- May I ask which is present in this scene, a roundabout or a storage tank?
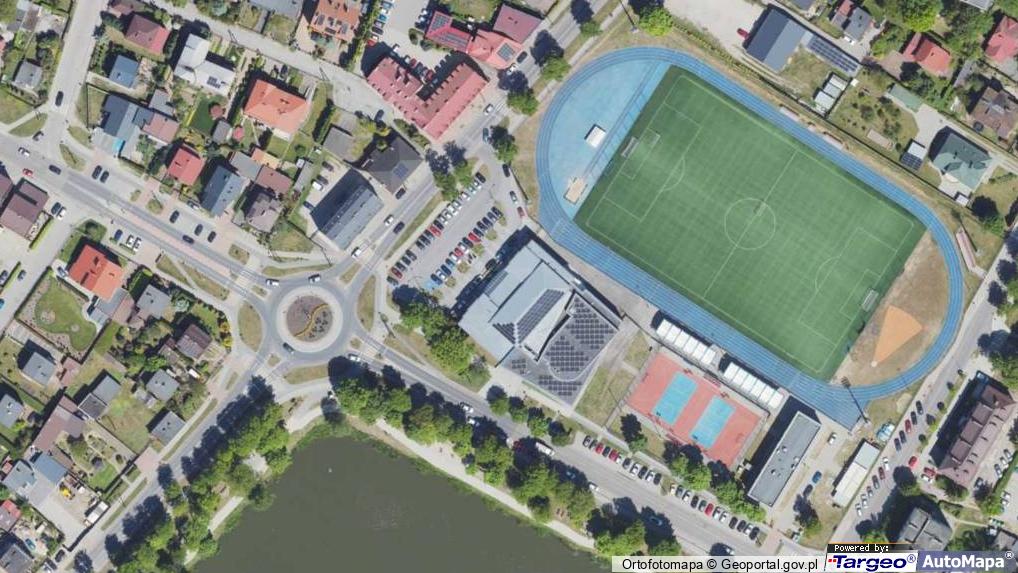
roundabout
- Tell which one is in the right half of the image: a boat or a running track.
running track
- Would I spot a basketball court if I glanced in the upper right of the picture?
No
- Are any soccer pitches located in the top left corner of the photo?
No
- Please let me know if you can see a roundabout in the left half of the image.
Yes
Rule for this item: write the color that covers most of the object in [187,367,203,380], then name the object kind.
white vehicle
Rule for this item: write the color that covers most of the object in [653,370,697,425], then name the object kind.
blue basketball court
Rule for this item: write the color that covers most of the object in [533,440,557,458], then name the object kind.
white vehicle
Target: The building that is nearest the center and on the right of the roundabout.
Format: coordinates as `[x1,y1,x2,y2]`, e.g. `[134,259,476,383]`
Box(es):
[459,240,623,407]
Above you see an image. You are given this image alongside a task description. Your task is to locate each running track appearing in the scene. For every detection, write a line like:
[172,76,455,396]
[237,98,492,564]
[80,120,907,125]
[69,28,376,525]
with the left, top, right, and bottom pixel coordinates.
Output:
[535,46,961,431]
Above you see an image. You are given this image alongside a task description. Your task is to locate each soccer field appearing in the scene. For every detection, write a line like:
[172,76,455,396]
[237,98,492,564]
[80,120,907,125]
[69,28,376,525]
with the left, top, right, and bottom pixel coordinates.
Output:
[573,65,927,381]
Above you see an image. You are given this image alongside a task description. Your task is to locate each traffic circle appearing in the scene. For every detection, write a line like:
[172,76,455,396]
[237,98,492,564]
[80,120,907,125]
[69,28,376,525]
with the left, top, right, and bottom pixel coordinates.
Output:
[261,271,356,365]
